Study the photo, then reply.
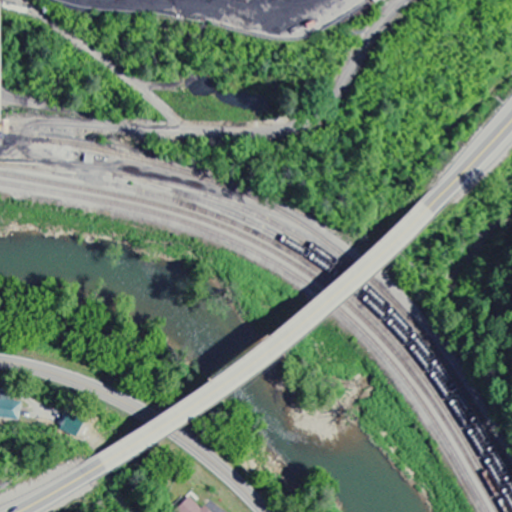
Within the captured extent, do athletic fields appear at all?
No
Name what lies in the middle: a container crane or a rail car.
rail car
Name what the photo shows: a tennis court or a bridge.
bridge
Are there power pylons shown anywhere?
No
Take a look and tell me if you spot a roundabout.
No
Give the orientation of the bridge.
at an angle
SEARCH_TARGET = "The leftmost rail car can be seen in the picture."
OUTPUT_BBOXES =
[278,234,308,254]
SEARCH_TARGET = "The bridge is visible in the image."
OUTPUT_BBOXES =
[88,189,448,480]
